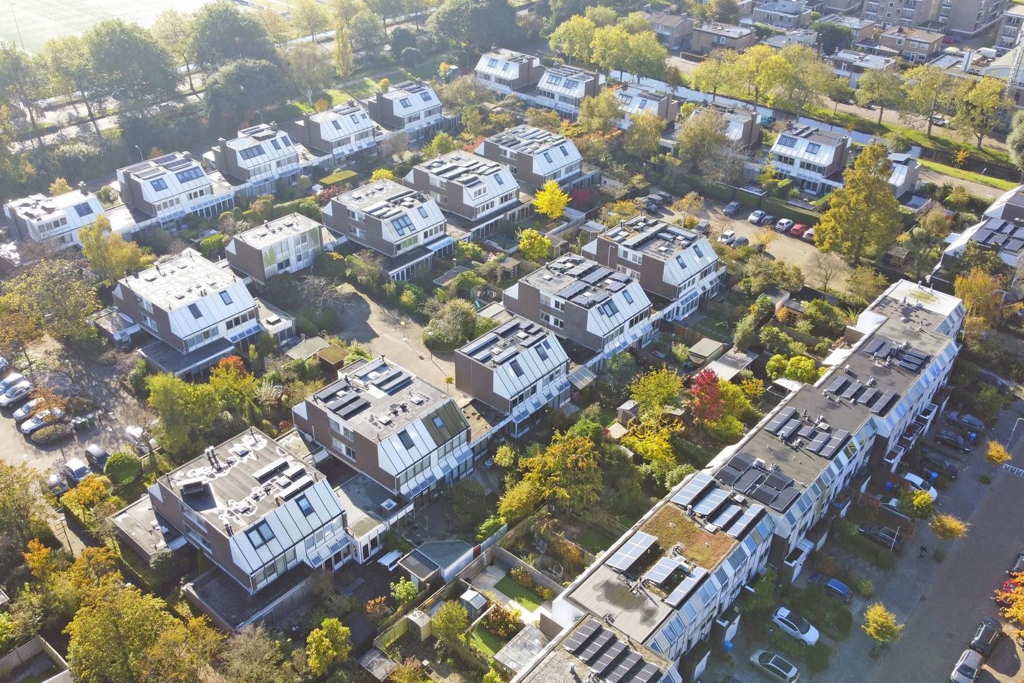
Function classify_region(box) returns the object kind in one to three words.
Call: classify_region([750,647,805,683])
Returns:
car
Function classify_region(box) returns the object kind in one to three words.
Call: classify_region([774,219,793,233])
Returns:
car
